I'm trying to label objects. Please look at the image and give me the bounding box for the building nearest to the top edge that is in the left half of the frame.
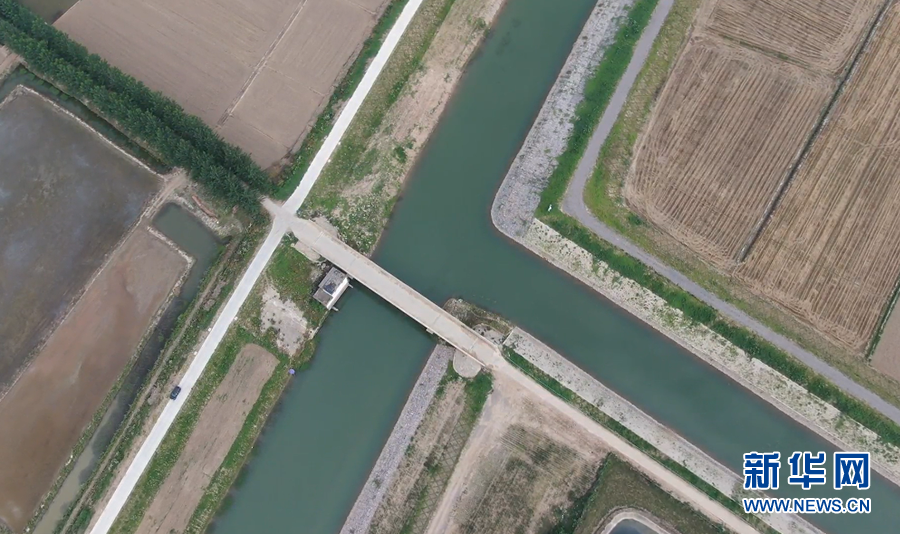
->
[311,267,353,312]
